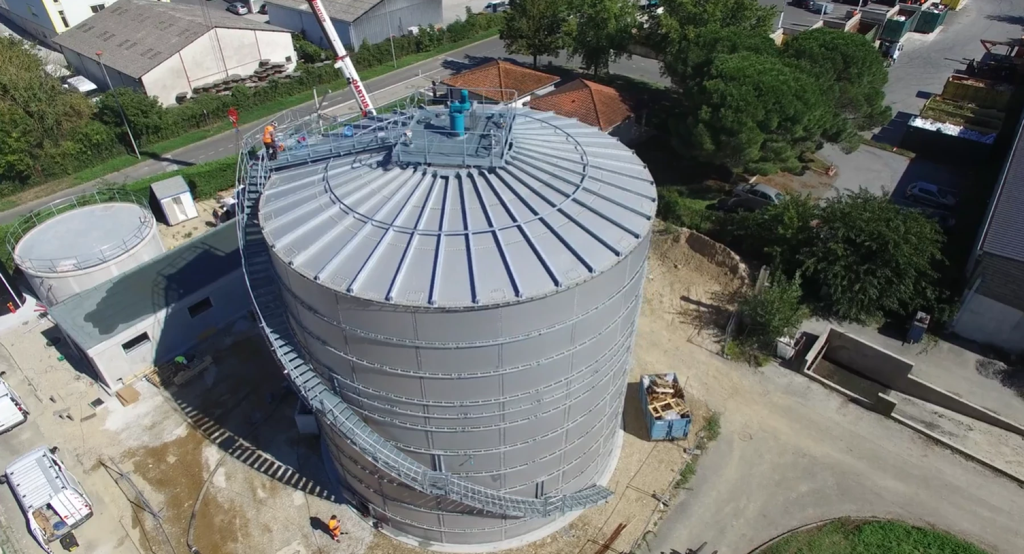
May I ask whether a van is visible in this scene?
Yes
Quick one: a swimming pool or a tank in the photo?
tank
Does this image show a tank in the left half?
Yes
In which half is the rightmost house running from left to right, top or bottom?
top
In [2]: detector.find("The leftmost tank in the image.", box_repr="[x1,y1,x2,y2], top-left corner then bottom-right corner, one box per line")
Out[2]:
[6,184,176,319]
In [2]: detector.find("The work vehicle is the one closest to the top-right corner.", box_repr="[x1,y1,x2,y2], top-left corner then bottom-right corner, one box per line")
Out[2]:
[988,38,1024,73]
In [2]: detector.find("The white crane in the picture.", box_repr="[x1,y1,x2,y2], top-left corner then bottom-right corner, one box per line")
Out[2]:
[300,0,395,141]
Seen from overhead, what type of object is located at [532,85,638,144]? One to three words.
house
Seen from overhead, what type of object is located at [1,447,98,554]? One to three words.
van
